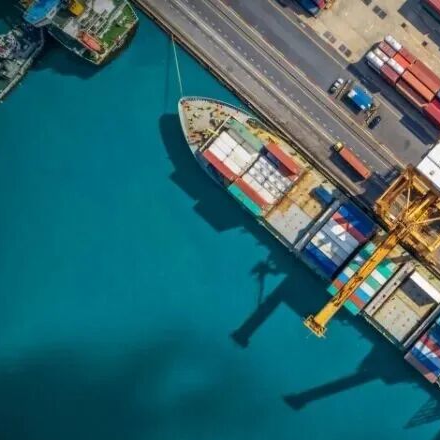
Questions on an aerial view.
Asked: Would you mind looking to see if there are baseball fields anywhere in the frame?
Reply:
No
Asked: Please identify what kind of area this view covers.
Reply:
port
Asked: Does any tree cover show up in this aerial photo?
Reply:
No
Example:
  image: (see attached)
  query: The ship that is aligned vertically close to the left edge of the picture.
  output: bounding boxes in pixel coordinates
[0,0,41,94]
